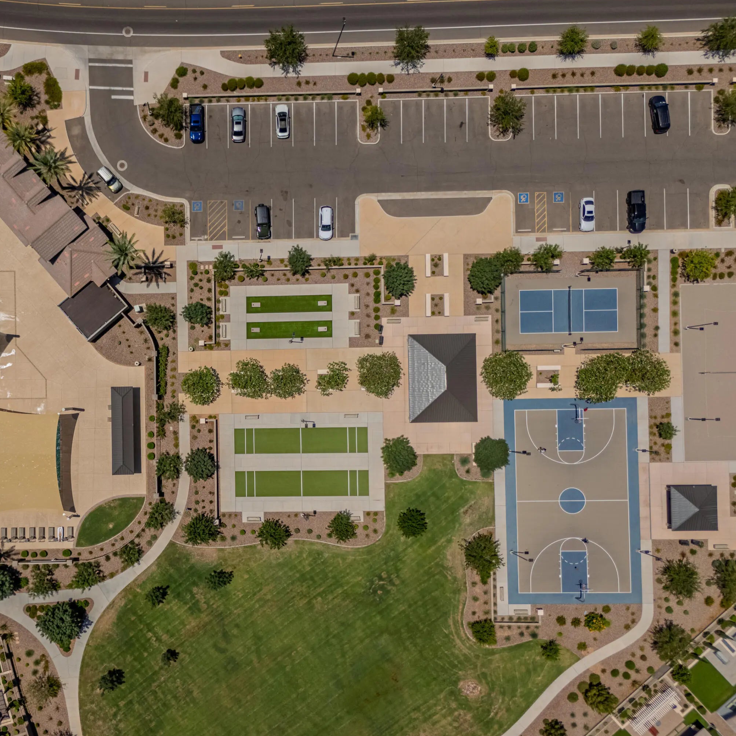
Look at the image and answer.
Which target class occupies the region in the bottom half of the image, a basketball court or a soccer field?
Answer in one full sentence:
What appears in the bottom half of the image is a basketball court.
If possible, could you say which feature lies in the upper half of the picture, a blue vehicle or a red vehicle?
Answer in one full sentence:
It is a blue vehicle that can be seen in the upper half of the picture.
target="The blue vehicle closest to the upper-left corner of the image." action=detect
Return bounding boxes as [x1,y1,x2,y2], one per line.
[188,103,206,145]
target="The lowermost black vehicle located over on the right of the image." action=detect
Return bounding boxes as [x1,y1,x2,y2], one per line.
[624,189,649,234]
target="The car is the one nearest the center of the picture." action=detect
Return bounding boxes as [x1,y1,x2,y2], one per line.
[317,206,334,242]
